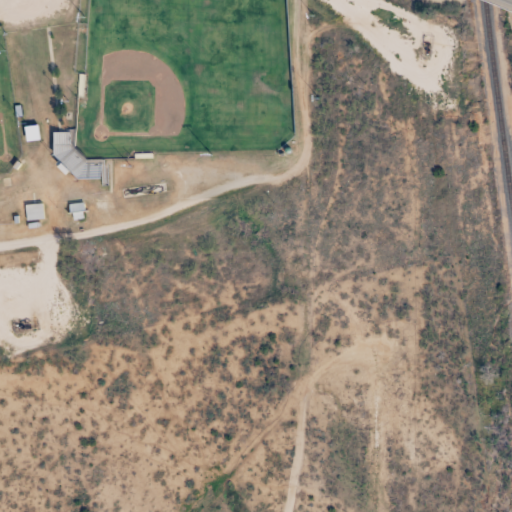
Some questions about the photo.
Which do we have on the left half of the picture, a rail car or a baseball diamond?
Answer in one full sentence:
Visible on the left half of the picture is a baseball diamond.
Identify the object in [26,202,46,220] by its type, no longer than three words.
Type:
barn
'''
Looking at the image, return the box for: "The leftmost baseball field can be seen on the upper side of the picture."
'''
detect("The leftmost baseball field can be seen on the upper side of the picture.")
[0,27,20,176]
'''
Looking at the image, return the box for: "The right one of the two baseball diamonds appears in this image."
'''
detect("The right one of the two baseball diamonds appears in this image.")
[76,0,294,158]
